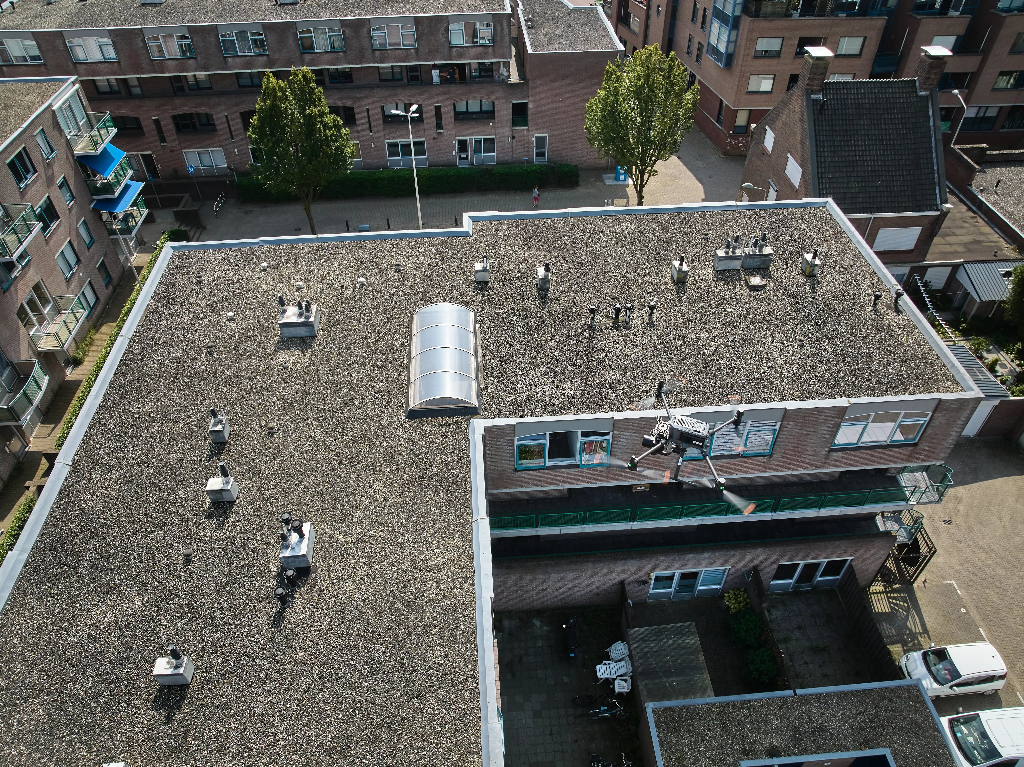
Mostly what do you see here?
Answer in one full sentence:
What you mostly see from above here is buildings.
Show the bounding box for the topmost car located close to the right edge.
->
[898,642,1012,701]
